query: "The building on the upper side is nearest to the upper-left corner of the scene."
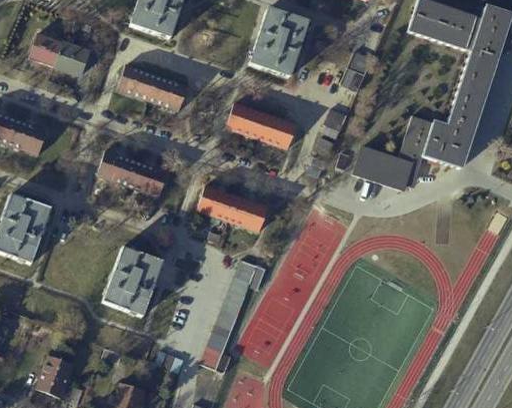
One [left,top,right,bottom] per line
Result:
[31,38,91,80]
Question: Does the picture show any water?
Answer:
No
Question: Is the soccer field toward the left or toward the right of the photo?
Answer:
right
